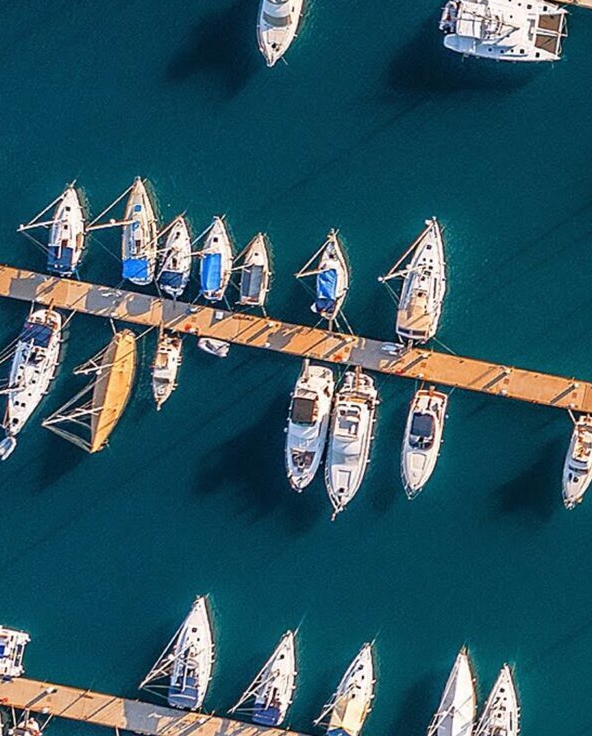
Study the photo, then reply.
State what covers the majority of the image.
water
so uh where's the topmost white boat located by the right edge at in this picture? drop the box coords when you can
[444,0,574,69]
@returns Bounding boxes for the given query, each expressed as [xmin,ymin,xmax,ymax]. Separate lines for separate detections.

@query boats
[400,381,458,502]
[561,410,592,513]
[0,301,77,437]
[197,335,230,355]
[18,182,91,283]
[295,227,354,335]
[0,626,32,676]
[227,230,276,319]
[45,319,155,451]
[139,213,198,306]
[323,366,384,517]
[183,213,236,312]
[312,638,379,736]
[10,707,51,736]
[258,0,310,69]
[444,0,574,69]
[285,359,344,496]
[380,216,456,353]
[86,174,163,297]
[140,593,219,711]
[471,663,522,736]
[227,629,302,729]
[436,1,458,37]
[426,647,480,736]
[0,436,15,463]
[148,324,184,414]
